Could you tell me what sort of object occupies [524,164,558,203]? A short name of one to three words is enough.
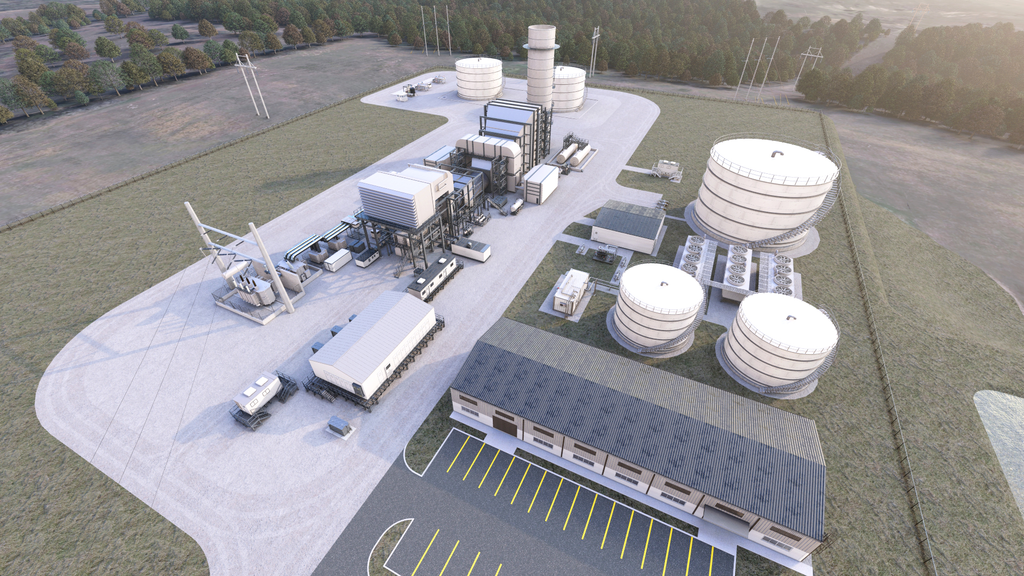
house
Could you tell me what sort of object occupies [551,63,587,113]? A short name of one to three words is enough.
storage tank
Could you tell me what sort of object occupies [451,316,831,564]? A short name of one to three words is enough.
warehouse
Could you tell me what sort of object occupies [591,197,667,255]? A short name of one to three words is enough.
building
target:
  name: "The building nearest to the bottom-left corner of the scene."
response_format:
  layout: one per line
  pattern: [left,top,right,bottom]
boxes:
[231,370,284,417]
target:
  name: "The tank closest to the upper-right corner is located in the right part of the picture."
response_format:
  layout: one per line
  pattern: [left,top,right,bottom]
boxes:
[692,135,840,248]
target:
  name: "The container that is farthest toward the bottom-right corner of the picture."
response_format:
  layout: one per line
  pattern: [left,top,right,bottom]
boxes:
[554,268,590,311]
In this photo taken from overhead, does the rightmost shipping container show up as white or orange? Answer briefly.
white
